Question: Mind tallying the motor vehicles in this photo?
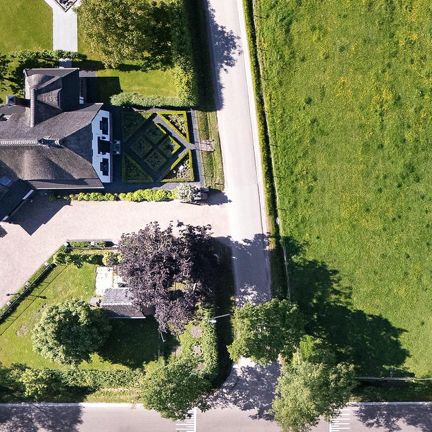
0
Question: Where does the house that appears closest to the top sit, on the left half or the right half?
left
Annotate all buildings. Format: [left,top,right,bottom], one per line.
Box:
[0,65,123,235]
[93,287,153,319]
